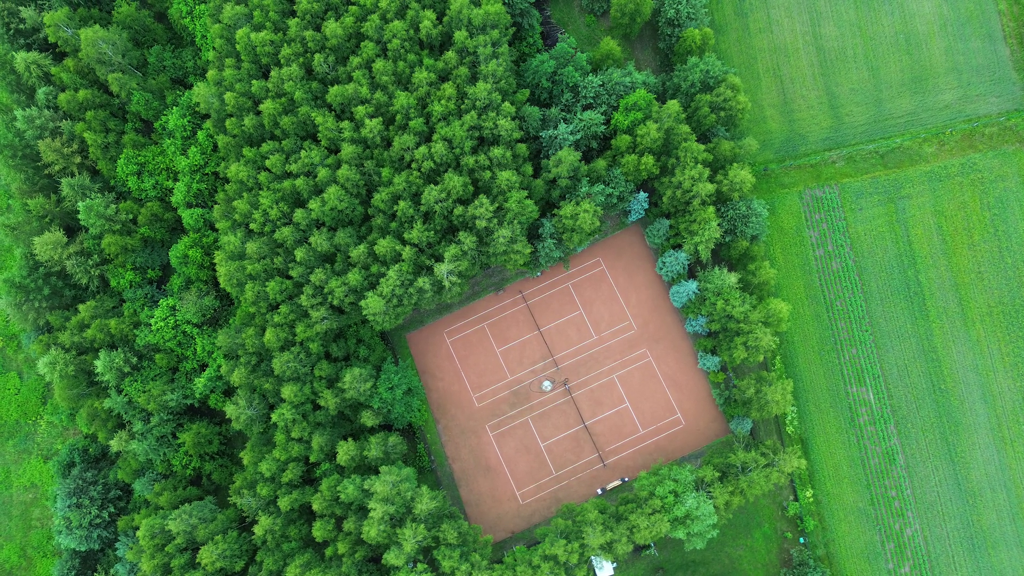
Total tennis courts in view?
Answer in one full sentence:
My tally gives 2 tennis courts in this view.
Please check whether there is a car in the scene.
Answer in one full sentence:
No, there appears to be no car in this shot.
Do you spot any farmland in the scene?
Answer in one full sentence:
Yes, some farmland is visible.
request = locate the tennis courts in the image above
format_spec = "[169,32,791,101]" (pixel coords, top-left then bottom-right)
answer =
[407,225,683,436]
[439,321,728,542]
